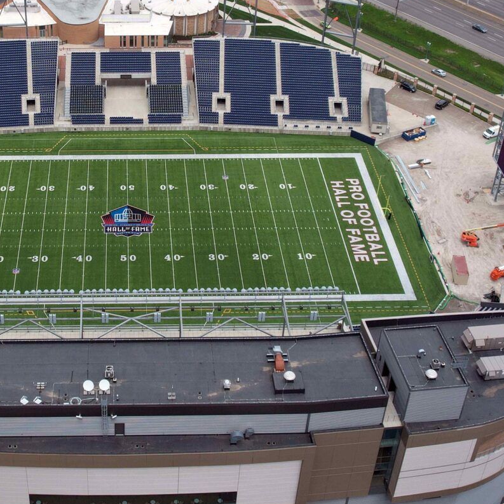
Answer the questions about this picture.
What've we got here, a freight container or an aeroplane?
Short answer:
freight container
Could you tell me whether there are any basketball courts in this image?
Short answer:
No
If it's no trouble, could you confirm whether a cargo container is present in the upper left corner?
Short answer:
No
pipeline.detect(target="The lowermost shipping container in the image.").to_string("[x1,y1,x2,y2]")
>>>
[450,257,475,287]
